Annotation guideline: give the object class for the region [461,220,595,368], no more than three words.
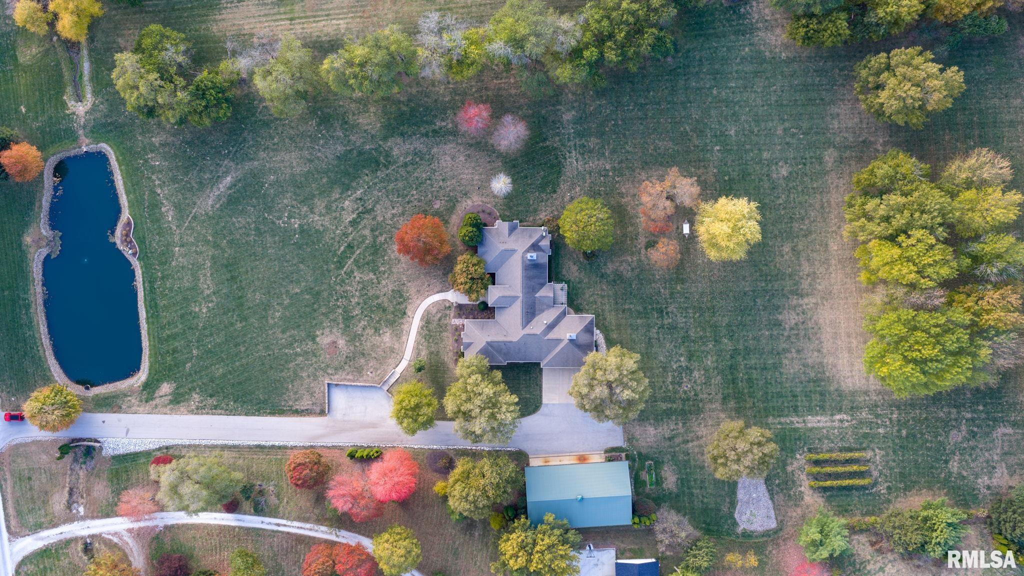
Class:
house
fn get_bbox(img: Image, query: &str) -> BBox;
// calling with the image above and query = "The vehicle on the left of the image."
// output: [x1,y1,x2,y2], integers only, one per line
[4,411,27,423]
